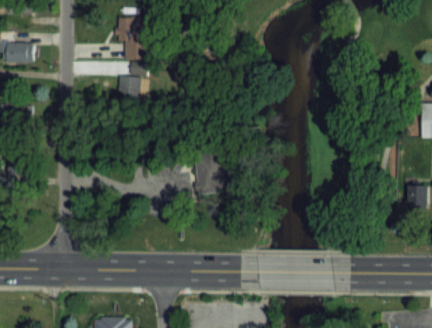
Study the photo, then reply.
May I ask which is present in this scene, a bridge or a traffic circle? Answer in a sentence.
This aerial view contains a bridge.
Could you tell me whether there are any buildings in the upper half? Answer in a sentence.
Yes, looking in the upper half, one can make out a building.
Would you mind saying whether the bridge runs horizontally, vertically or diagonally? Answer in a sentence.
From this overhead view, the bridge appears to run horizontally.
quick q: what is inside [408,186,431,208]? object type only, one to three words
house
